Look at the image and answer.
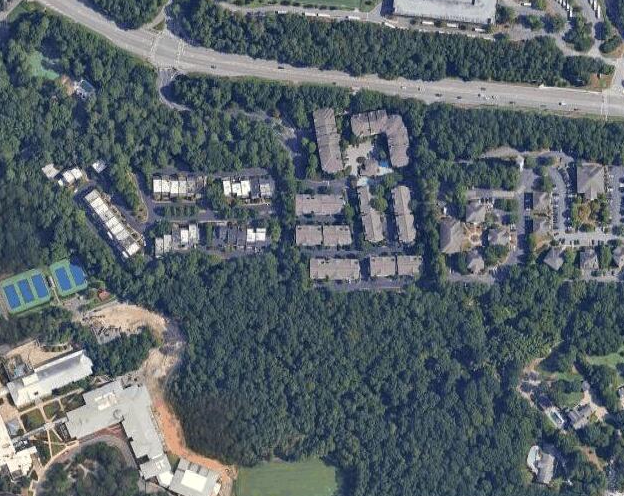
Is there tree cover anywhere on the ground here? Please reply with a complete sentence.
Yes, tree cover can be seen from above here.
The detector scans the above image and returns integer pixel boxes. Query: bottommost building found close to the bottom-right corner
[537,454,553,482]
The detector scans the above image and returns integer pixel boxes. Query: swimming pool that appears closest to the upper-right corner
[376,158,394,176]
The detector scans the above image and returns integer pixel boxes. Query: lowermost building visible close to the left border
[4,445,37,478]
